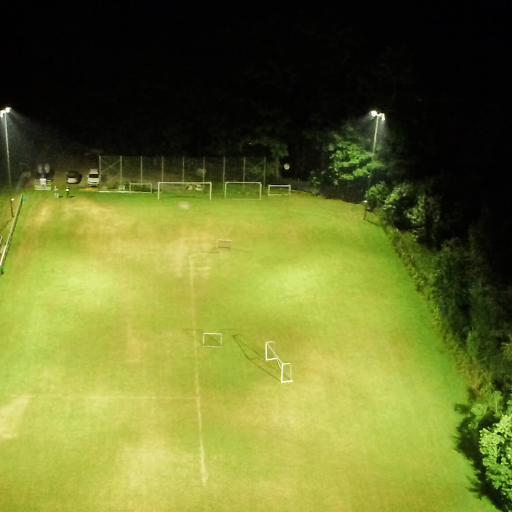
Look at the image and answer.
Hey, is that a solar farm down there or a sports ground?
sports ground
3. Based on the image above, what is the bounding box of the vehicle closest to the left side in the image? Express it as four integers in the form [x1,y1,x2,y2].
[35,165,52,182]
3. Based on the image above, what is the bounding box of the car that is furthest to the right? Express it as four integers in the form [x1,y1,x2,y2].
[63,165,79,181]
